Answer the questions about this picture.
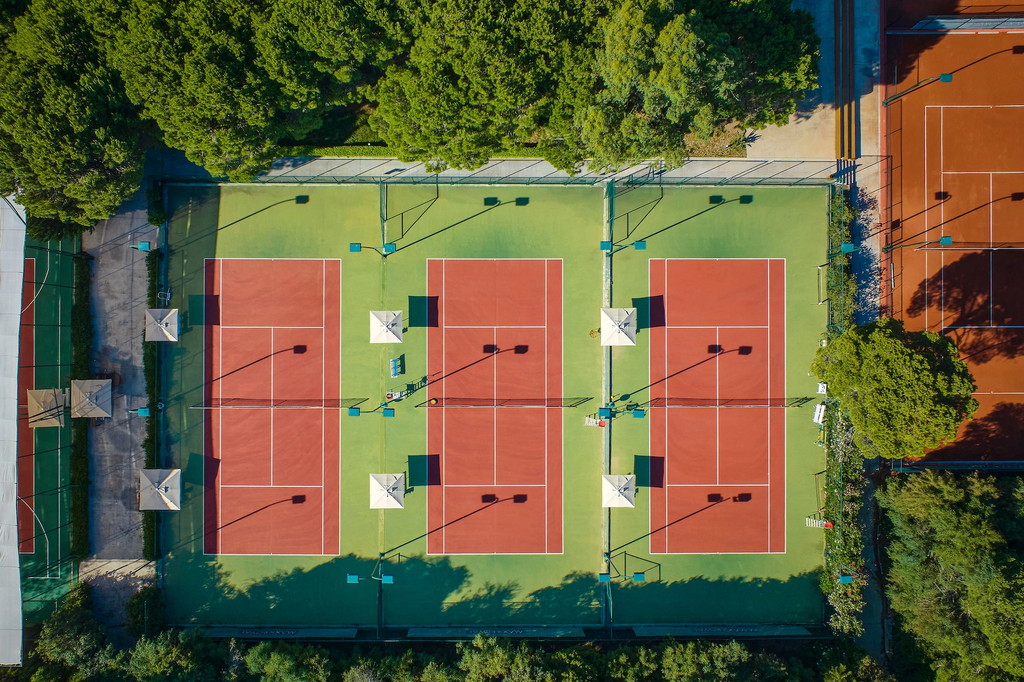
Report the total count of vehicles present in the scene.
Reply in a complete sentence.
No vehicles are visible.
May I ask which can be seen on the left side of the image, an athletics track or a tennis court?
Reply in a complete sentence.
Visible on the left side of the image is a tennis court.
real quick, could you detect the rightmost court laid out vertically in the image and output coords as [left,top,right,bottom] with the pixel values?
[888,31,1024,461]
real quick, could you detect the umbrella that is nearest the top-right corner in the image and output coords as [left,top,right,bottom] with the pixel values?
[600,310,635,344]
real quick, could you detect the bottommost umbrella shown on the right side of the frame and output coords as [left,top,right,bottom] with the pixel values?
[602,474,634,506]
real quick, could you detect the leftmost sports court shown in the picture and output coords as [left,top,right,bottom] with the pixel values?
[19,193,79,618]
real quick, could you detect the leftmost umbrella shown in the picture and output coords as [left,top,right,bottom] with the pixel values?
[31,389,69,427]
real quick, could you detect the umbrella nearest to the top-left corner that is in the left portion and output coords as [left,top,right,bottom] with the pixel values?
[147,309,181,342]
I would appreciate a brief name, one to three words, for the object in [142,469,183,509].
umbrella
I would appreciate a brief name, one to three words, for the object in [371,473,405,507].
umbrella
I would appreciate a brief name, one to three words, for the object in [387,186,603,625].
tennis court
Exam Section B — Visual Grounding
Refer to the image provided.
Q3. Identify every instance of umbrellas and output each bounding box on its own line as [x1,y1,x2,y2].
[31,389,69,427]
[371,473,405,507]
[142,469,183,509]
[602,474,634,506]
[371,311,404,343]
[147,309,181,342]
[75,379,114,417]
[600,310,635,344]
